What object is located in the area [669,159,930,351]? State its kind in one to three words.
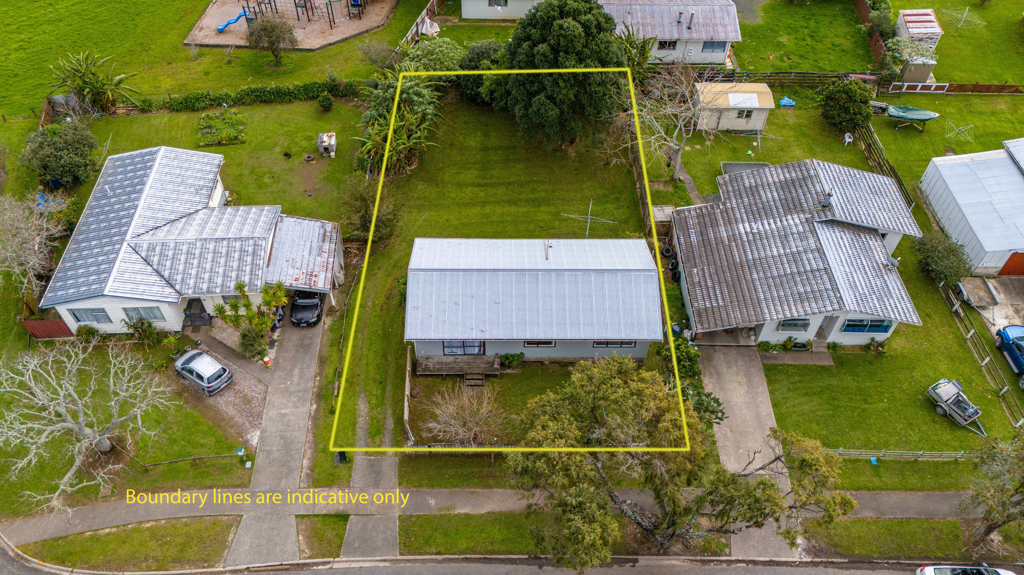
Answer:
house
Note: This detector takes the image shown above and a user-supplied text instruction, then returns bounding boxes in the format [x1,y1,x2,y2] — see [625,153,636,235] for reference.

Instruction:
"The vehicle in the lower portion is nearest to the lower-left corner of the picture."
[170,345,235,398]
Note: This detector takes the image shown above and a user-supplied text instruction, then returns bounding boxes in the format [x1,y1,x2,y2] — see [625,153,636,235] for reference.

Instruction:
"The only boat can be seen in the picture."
[886,103,941,132]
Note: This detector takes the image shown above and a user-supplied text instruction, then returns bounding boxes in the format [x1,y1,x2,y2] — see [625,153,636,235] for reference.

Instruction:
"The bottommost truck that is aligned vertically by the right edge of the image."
[993,320,1024,395]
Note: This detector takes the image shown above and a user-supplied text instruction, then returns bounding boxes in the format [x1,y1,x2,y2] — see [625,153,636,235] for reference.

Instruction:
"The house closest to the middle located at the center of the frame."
[403,234,664,359]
